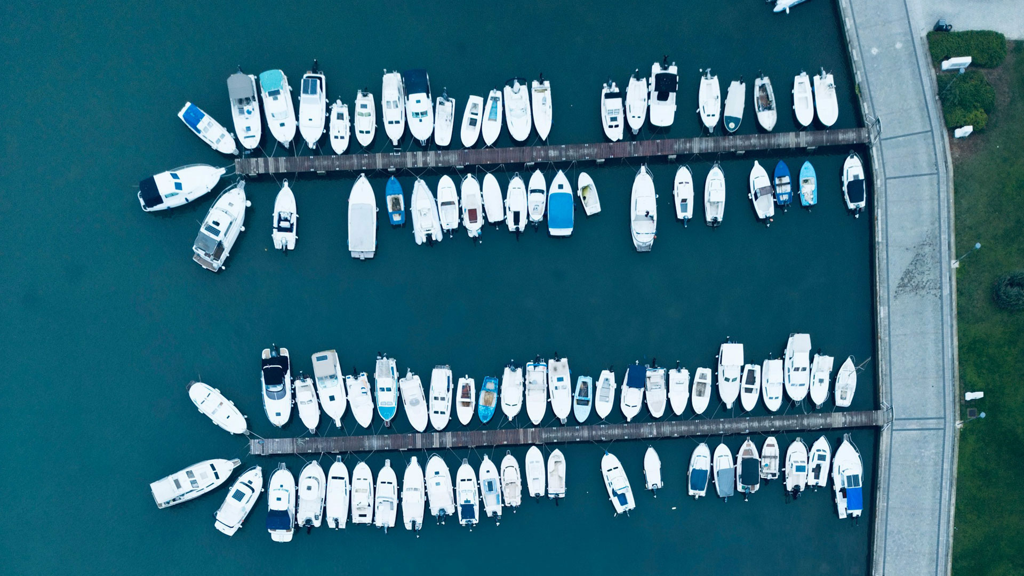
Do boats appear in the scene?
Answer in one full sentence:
Yes, there is a boat in the image.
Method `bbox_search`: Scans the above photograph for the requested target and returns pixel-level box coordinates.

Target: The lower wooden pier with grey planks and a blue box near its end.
[250,410,879,456]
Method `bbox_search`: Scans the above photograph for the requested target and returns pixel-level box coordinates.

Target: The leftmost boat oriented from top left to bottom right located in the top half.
[177,101,240,160]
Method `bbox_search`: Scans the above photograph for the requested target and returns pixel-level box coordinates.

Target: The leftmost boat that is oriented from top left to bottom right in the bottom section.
[185,378,263,440]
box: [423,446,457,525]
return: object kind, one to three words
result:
boat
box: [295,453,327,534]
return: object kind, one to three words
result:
boat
